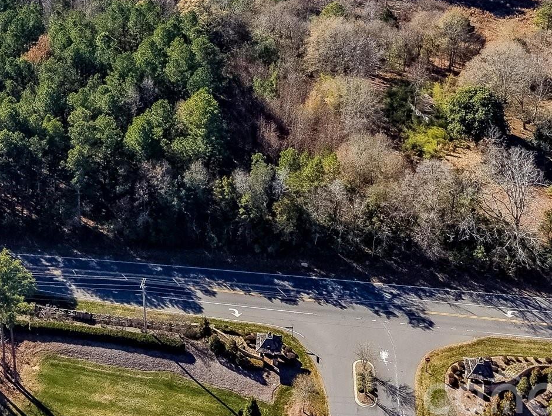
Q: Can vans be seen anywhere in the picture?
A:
No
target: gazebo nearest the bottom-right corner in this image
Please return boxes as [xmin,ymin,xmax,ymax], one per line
[463,354,498,395]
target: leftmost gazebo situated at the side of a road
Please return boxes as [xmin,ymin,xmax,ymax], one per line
[255,329,283,367]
